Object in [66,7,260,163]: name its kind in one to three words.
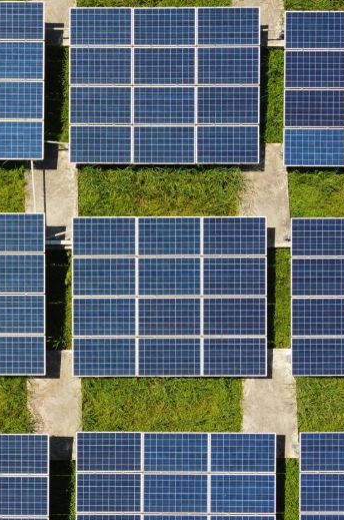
solar array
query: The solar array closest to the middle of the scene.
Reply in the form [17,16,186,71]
[68,217,267,376]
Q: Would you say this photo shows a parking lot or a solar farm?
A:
solar farm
